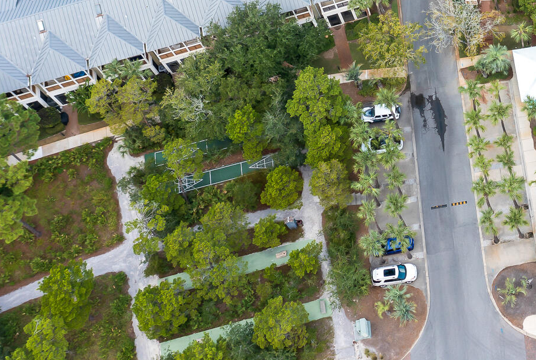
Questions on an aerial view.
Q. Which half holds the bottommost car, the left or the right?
right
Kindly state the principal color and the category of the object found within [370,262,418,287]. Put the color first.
white car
